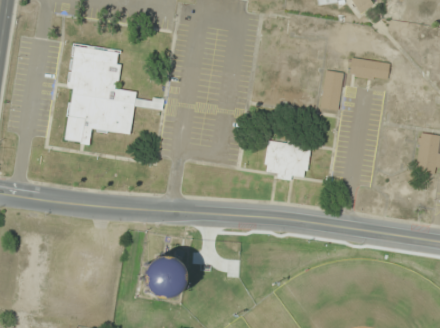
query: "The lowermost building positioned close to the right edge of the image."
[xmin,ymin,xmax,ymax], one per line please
[416,134,440,177]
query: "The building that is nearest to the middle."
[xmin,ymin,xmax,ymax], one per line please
[266,142,312,181]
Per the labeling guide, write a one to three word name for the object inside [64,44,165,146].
building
